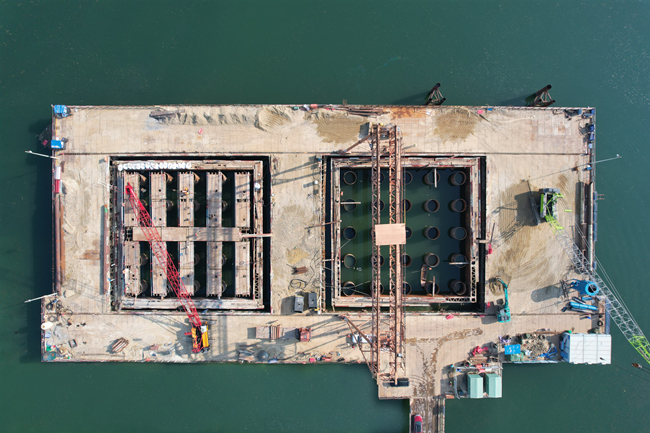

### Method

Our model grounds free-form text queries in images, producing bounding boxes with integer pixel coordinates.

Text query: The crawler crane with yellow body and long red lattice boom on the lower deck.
[122,179,216,358]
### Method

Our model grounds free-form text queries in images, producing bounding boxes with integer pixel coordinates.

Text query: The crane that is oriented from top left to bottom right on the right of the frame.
[528,185,650,373]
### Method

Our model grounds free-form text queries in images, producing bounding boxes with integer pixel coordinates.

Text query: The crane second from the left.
[335,124,408,385]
